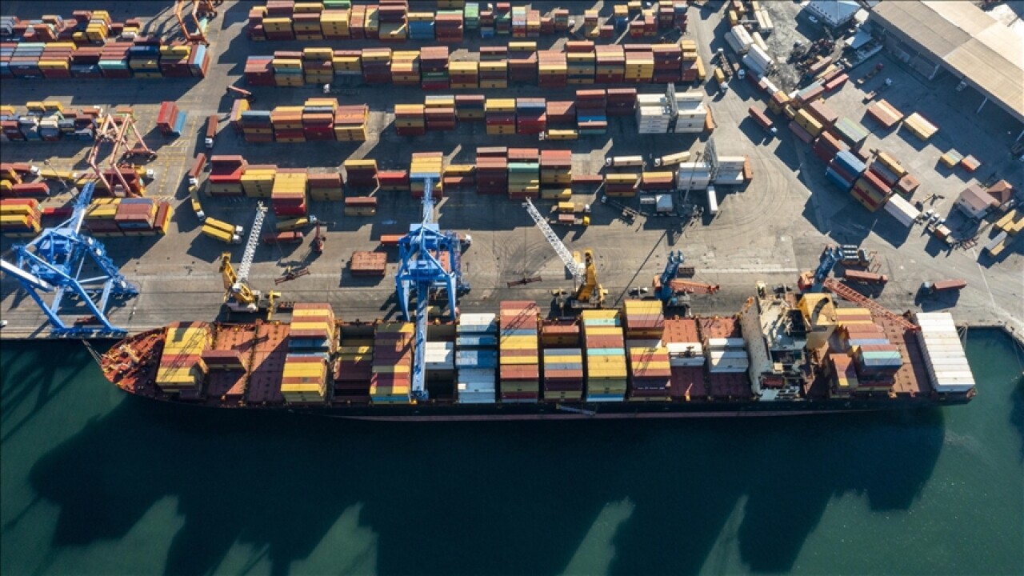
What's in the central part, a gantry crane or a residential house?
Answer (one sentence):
The one visible in the central part is a gantry crane.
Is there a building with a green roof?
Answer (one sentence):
No, the picture doesn't show any building with a green roof.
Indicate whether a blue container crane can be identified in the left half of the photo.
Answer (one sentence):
Yes, a blue container crane appears in the left half of the photo.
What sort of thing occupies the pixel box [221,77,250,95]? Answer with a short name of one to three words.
work vehicle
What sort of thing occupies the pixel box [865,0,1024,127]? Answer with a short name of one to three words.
warehouse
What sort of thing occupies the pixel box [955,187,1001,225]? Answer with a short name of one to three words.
house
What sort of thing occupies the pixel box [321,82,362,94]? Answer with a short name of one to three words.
vehicle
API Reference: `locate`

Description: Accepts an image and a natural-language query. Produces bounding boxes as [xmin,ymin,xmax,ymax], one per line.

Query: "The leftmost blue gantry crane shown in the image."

[0,177,134,330]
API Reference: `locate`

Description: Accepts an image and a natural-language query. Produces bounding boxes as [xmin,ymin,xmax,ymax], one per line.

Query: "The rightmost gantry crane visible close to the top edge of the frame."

[173,0,224,44]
